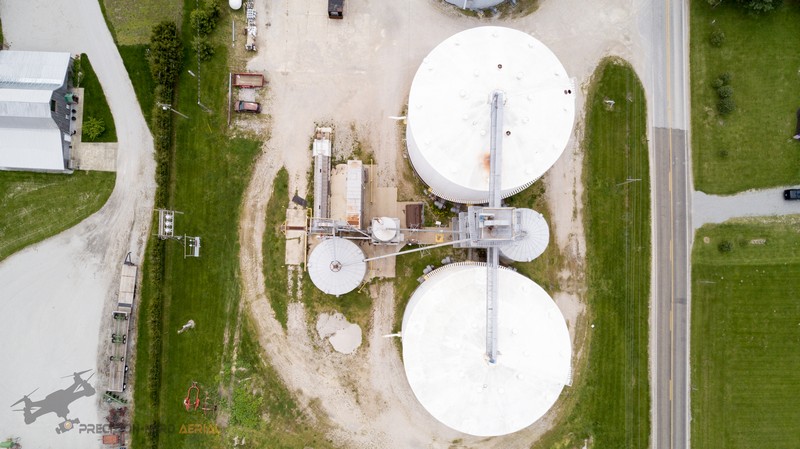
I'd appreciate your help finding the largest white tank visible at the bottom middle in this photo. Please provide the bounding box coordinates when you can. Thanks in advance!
[383,262,579,437]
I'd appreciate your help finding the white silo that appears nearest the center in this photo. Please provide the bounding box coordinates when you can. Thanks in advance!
[371,217,405,245]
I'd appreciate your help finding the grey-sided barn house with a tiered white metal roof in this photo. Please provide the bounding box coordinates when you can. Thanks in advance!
[0,52,80,175]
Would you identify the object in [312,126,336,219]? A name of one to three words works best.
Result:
shed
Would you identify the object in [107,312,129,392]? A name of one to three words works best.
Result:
trailer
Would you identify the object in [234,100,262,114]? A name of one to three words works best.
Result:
car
